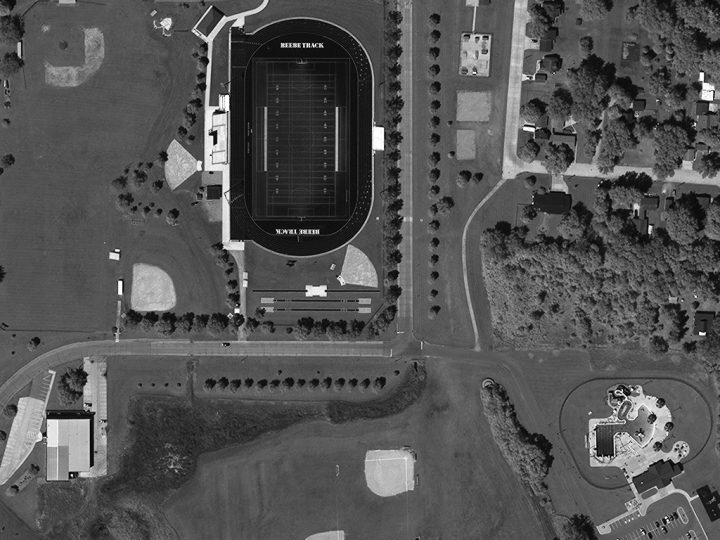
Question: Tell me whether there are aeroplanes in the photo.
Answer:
No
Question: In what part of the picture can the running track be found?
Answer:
top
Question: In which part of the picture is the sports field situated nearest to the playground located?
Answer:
top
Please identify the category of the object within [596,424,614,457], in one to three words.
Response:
swimming pool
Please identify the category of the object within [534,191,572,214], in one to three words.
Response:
house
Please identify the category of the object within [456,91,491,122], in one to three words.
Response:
sports court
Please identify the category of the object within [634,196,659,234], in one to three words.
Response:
house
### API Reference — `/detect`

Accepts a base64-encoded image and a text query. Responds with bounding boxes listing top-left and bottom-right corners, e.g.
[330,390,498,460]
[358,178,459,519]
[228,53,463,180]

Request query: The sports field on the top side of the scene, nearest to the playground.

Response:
[252,58,353,221]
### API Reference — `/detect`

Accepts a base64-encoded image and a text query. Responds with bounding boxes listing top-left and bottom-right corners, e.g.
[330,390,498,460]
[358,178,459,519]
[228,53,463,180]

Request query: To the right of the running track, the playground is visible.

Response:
[458,33,492,77]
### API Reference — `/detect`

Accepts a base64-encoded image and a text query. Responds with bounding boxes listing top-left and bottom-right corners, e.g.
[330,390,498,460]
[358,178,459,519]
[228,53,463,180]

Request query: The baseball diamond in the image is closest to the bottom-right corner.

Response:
[365,449,414,508]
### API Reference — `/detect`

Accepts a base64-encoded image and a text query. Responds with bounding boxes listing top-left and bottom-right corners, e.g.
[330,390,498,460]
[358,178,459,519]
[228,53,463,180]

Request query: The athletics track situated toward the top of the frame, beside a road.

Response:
[229,16,375,259]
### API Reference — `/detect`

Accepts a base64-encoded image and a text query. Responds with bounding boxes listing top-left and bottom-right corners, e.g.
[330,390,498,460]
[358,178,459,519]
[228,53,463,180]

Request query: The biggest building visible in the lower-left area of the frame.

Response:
[46,416,90,480]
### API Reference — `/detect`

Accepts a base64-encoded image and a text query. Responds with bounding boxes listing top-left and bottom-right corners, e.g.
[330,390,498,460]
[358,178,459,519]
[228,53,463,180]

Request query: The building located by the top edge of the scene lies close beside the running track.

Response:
[196,6,224,37]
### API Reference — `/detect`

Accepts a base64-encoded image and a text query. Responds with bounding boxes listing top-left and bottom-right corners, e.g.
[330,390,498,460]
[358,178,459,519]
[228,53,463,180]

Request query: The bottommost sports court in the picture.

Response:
[456,130,476,160]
